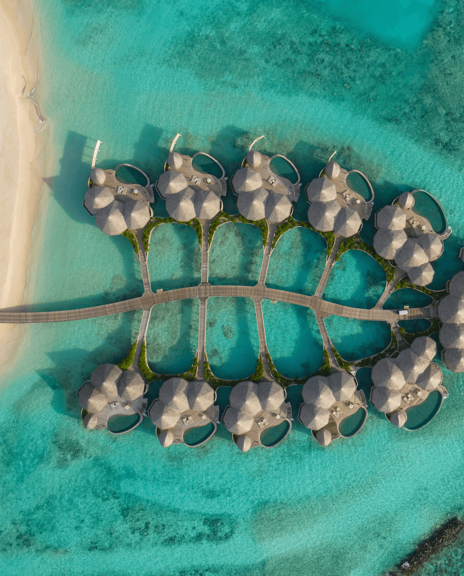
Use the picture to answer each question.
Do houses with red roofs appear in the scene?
No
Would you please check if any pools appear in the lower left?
Yes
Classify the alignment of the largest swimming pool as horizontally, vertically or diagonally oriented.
diagonally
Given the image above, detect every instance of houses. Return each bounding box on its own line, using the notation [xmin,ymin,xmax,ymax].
[148,378,220,449]
[155,152,228,222]
[230,150,303,229]
[373,190,452,287]
[76,361,150,436]
[81,164,155,239]
[220,372,294,454]
[296,372,369,448]
[304,161,374,240]
[430,246,464,375]
[369,335,448,433]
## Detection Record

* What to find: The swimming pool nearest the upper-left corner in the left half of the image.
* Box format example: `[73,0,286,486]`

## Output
[115,166,149,188]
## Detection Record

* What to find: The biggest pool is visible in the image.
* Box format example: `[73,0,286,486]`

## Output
[404,390,441,431]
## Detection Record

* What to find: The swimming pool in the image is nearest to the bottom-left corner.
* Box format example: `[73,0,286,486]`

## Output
[109,413,142,434]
